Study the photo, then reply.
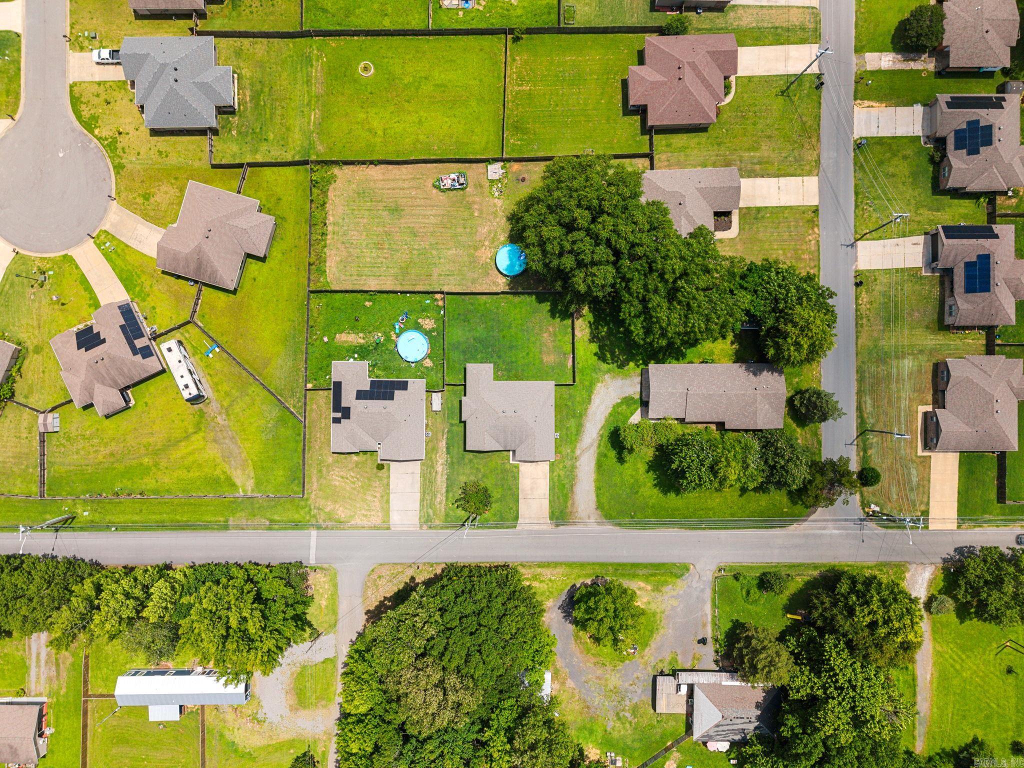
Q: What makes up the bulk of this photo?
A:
grass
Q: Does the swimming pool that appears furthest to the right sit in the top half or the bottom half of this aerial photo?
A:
top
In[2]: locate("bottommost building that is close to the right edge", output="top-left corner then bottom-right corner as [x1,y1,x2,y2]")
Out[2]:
[925,355,1024,451]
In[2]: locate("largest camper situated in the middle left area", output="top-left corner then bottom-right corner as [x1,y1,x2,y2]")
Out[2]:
[162,339,206,402]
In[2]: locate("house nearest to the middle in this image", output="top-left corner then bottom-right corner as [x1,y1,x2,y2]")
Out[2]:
[462,363,555,462]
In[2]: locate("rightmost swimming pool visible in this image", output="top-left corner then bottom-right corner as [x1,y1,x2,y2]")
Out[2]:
[495,242,527,275]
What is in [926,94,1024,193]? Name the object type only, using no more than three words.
house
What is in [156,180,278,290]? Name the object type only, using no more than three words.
house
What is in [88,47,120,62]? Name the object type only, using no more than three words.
vehicle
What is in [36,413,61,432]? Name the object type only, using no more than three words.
shed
